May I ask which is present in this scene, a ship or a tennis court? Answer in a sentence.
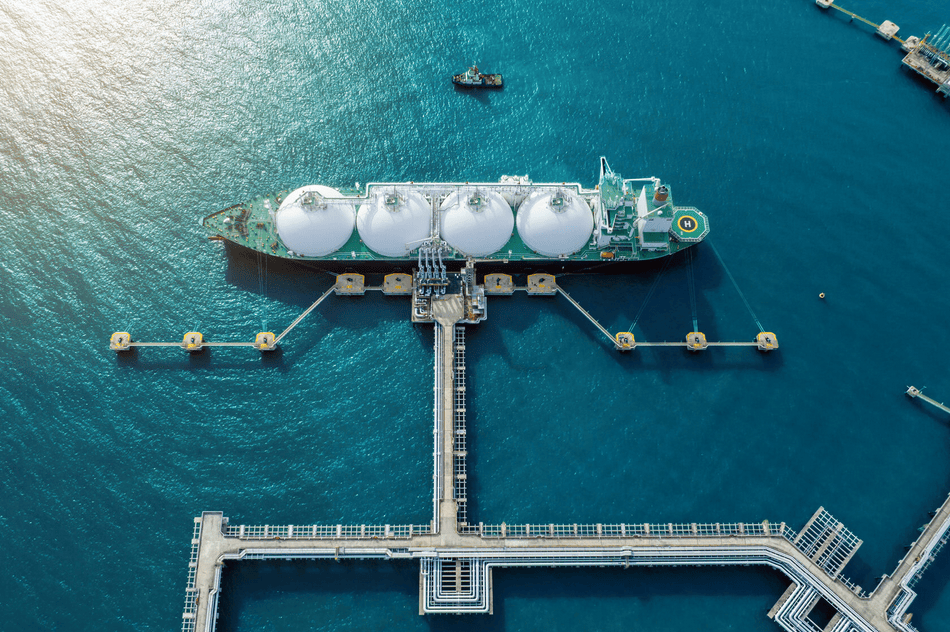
This aerial view contains a ship.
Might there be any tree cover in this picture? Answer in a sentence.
No, there is no tree cover in the image.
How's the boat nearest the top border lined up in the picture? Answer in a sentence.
The boat nearest the top border is laid out horizontally.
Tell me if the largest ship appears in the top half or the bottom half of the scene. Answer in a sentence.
The largest ship is in the top half of the image.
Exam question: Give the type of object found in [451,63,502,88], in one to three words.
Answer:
boat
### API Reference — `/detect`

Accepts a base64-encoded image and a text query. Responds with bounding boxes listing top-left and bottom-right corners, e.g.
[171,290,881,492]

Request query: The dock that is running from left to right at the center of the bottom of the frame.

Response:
[224,533,787,566]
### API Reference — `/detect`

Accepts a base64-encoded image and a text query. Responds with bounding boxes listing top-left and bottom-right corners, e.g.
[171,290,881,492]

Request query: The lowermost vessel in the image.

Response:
[198,160,710,277]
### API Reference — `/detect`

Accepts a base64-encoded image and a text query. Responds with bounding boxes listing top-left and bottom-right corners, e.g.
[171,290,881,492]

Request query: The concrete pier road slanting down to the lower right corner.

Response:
[777,538,903,632]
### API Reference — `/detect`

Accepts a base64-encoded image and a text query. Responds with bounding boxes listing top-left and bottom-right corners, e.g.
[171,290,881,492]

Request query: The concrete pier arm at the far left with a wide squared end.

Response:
[192,511,241,632]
